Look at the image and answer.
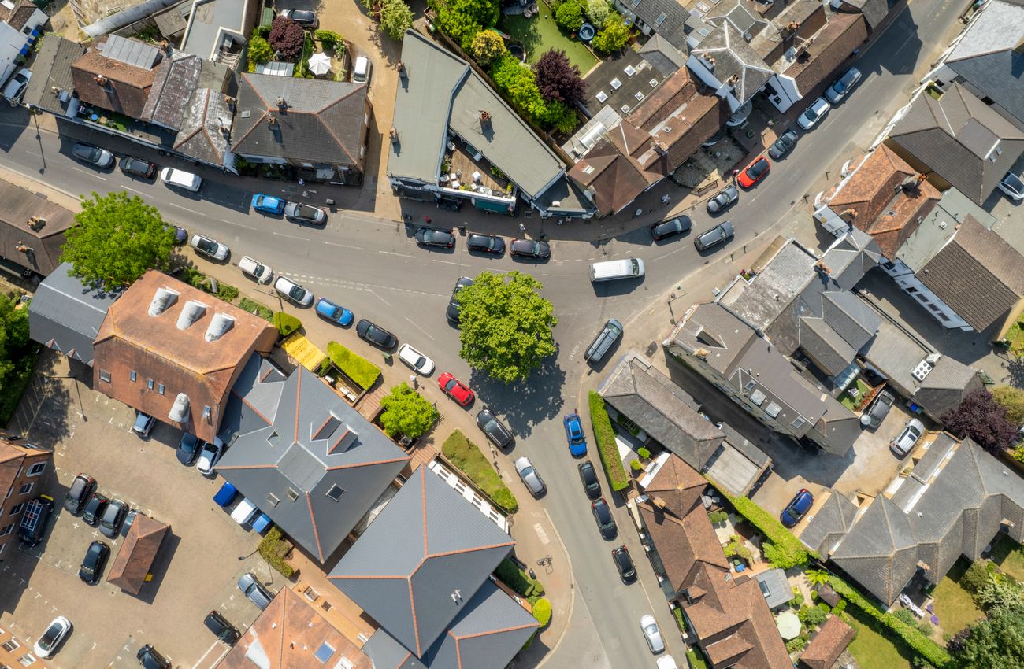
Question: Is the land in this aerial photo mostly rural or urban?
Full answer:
This place is urban.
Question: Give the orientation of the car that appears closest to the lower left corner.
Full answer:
In this picture, the car that appears closest to the lower left corner lies on a diagonal.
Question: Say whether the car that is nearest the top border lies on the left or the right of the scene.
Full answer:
The car that is nearest the top border sits on the left side.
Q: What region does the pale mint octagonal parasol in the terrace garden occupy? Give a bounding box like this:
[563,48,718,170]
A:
[776,613,801,639]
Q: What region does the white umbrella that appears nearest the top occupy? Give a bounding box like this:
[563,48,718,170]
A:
[307,51,331,75]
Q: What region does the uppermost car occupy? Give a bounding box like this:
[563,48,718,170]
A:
[282,4,320,28]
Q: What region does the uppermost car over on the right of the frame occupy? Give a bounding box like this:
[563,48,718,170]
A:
[822,63,867,104]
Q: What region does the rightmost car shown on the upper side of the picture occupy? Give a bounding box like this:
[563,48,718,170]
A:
[995,174,1024,208]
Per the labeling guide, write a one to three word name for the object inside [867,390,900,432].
car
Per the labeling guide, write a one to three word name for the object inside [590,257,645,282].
vehicle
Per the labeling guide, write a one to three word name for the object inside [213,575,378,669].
building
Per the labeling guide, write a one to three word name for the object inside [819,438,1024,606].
house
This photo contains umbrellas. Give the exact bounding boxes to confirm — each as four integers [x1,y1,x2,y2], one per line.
[307,51,331,75]
[659,193,671,204]
[776,613,801,639]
